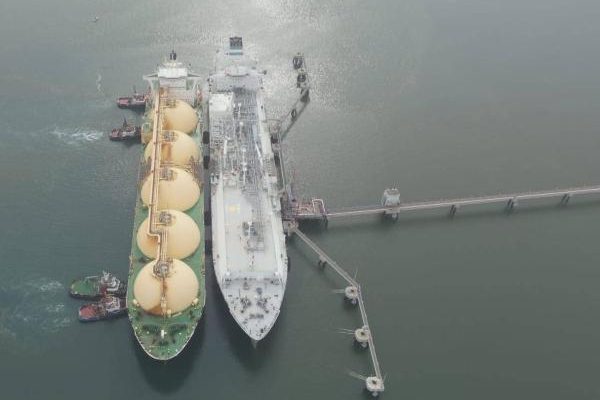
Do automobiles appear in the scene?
No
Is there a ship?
Yes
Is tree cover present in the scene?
No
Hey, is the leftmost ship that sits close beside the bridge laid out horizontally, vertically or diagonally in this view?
vertically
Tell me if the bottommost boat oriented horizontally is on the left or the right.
left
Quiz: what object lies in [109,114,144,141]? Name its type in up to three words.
boat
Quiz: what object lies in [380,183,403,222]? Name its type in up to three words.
building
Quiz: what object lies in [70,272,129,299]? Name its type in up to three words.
boat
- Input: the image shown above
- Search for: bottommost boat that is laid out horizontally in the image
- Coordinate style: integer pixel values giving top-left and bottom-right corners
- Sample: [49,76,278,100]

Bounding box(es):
[79,294,128,320]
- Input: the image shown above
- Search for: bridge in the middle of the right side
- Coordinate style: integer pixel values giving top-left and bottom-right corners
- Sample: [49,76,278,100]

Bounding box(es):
[329,186,600,218]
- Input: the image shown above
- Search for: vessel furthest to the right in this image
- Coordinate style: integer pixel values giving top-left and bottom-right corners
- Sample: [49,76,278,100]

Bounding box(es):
[206,33,287,346]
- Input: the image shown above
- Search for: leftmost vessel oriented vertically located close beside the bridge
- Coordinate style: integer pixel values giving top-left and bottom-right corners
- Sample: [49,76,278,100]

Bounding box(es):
[128,51,206,360]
